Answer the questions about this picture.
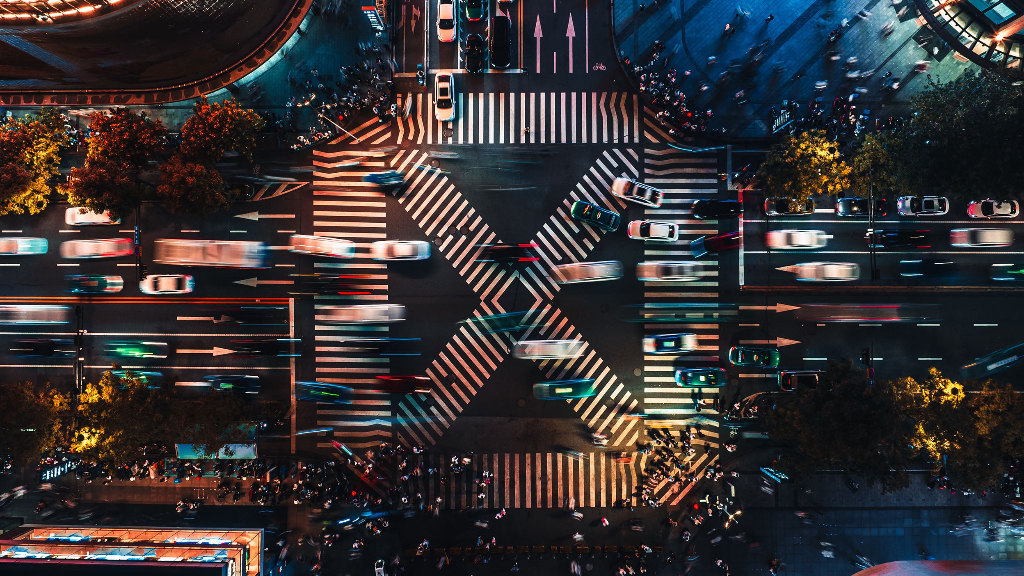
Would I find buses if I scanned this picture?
Yes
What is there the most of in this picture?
paved ground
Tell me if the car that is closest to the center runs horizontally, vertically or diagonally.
horizontally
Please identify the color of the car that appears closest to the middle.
black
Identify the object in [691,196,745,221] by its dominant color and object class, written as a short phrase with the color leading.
black car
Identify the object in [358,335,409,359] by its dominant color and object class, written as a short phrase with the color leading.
black car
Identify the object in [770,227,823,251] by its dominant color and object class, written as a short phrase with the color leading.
white car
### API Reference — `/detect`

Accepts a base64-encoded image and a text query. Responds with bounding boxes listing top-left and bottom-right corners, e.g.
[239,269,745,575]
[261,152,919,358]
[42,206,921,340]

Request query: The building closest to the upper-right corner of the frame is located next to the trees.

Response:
[907,0,1024,75]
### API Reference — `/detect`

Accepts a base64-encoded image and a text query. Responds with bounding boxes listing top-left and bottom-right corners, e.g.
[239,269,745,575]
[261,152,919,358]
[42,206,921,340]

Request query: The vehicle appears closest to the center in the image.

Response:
[486,240,533,264]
